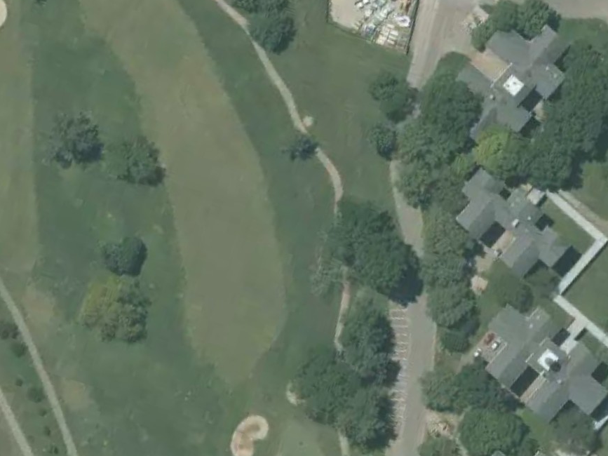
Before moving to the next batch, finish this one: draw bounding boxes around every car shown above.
[474,347,483,357]
[485,332,494,345]
[491,340,498,351]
